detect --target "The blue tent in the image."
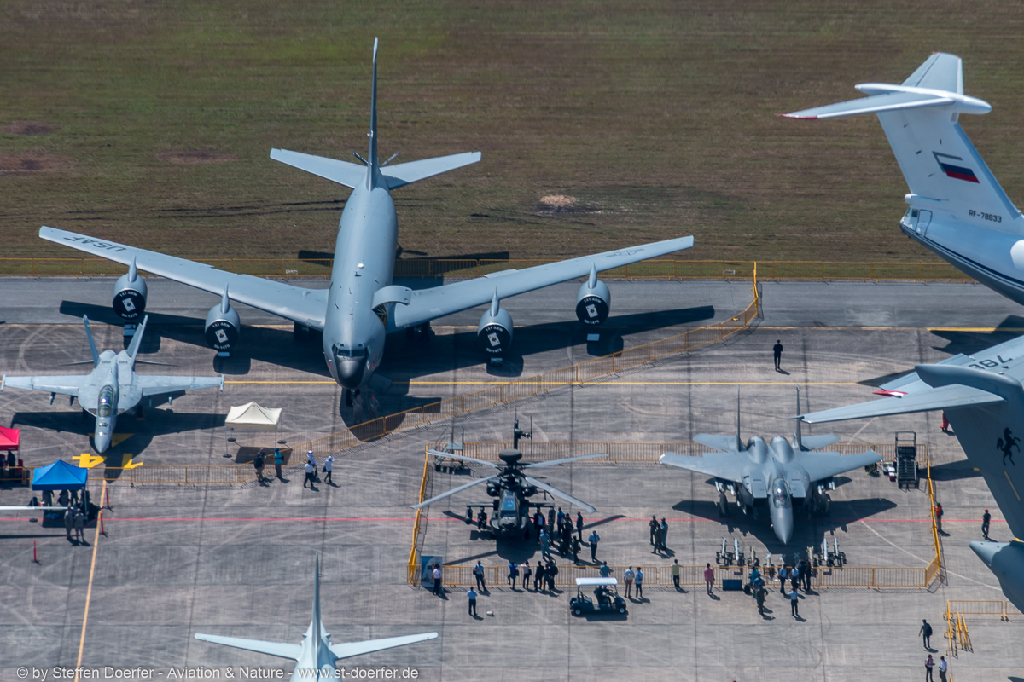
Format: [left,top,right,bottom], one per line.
[28,461,93,521]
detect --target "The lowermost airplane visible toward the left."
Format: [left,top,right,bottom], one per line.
[195,550,440,682]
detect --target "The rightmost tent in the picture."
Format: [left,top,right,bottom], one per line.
[223,400,286,457]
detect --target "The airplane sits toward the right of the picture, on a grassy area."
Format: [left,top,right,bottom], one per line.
[776,52,1024,398]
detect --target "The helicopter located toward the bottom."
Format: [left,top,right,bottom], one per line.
[412,407,606,539]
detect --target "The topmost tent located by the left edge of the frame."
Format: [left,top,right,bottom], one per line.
[0,426,22,463]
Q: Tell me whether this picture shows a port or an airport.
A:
airport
